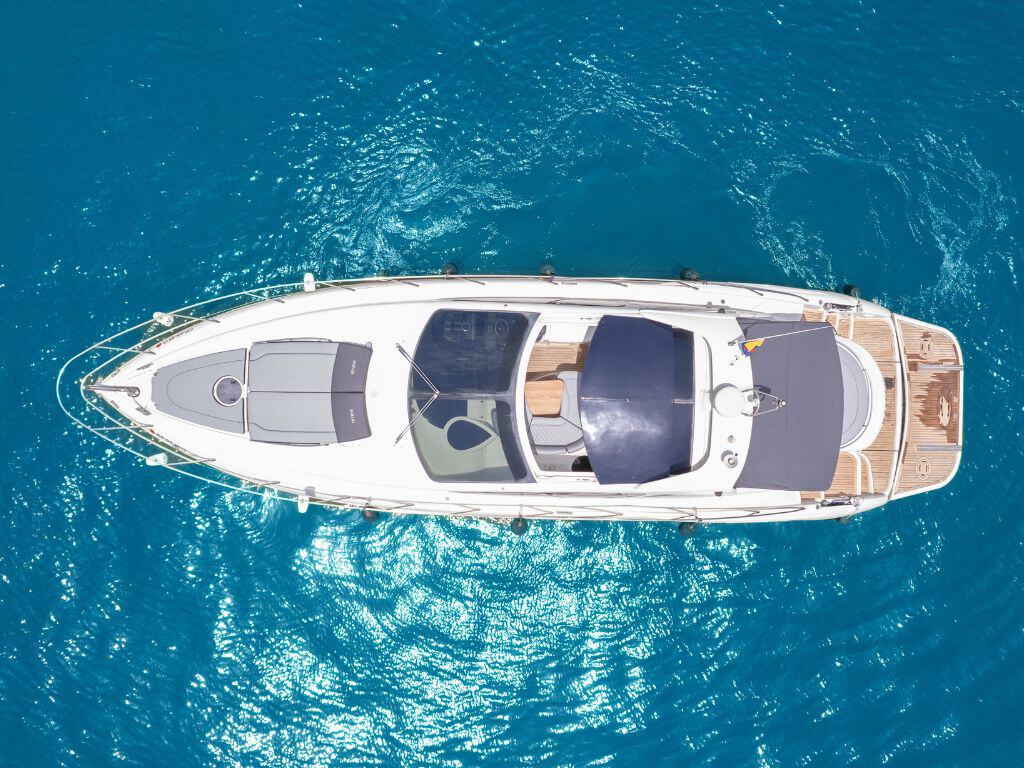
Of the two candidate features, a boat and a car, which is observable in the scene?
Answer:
boat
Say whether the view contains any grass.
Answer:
No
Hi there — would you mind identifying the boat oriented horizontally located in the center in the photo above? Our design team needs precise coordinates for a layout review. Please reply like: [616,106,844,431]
[56,274,965,522]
